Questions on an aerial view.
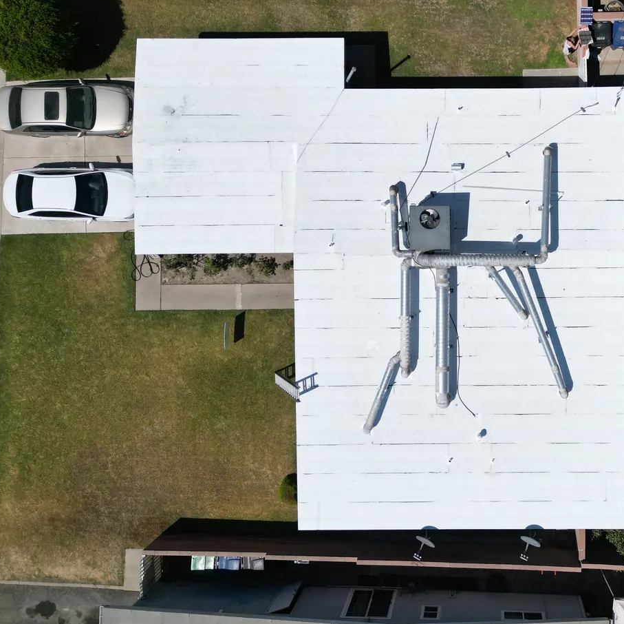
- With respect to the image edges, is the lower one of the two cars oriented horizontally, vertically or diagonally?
horizontally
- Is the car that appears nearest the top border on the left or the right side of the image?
left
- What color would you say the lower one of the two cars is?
white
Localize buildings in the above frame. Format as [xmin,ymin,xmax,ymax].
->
[97,584,611,624]
[131,39,624,530]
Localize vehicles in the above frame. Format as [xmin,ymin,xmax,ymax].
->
[0,77,133,141]
[2,164,134,228]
